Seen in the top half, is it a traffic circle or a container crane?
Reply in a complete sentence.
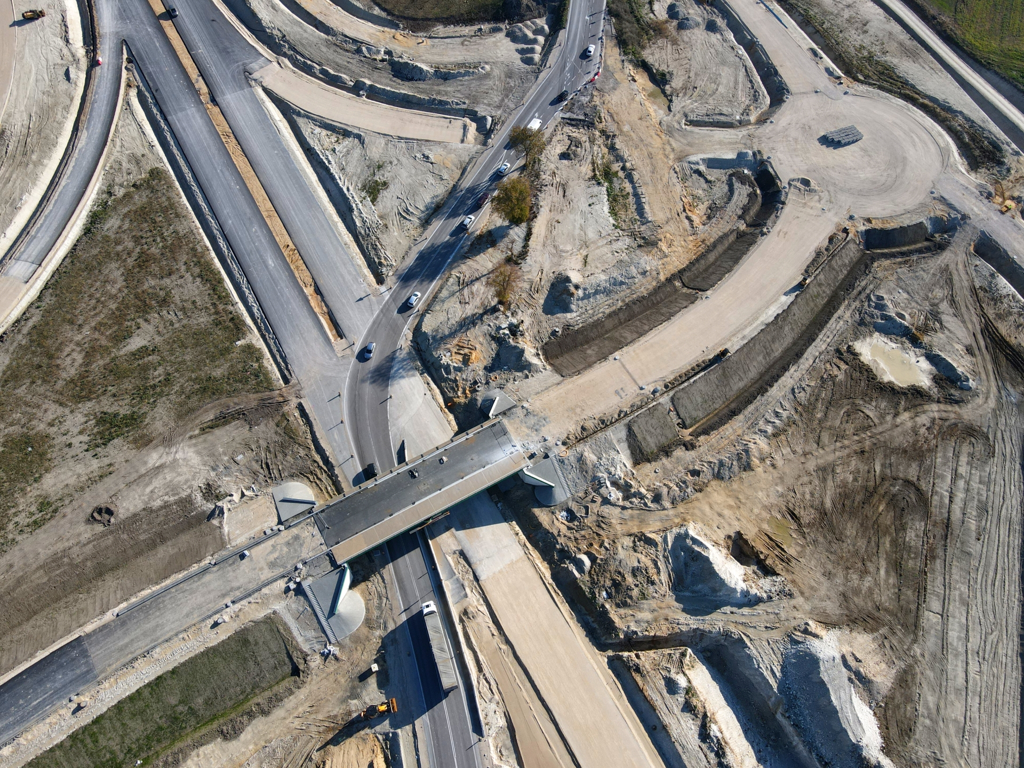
It is a traffic circle that can be seen in the top half.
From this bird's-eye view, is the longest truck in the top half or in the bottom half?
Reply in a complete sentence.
The longest truck is in the bottom half of the image.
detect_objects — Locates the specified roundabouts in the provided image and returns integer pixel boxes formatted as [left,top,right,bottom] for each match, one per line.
[755,83,955,220]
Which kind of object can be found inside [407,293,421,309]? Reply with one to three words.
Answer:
car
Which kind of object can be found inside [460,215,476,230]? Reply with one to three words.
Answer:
car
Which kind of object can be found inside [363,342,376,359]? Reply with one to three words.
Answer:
vehicle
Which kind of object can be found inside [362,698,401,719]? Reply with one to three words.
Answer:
work vehicle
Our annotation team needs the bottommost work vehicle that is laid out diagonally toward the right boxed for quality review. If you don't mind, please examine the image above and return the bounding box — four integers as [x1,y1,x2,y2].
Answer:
[711,346,733,362]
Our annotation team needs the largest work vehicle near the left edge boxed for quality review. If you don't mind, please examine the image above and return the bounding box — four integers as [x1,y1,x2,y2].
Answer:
[23,6,46,21]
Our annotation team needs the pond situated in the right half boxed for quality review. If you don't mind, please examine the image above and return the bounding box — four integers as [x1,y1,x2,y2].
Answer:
[869,336,933,388]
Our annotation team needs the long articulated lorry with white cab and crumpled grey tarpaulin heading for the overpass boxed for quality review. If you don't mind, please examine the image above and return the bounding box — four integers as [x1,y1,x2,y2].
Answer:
[422,604,456,698]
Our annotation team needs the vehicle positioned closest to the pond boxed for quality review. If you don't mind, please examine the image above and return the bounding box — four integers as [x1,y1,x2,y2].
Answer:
[798,270,813,288]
